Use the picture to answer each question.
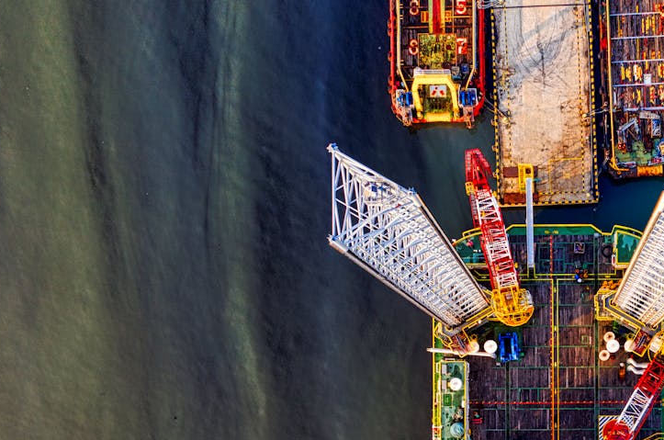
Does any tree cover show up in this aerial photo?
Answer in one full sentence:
No, there's no tree cover in this view.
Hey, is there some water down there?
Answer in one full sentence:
Yes, the picture does contain water.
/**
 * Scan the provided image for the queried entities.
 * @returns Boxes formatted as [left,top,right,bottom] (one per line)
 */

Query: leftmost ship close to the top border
[386,0,485,126]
